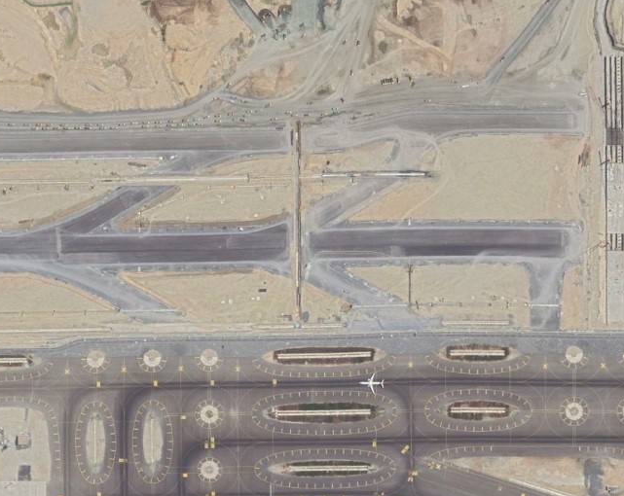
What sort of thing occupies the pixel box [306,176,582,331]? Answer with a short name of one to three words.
runway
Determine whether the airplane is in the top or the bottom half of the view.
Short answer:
bottom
